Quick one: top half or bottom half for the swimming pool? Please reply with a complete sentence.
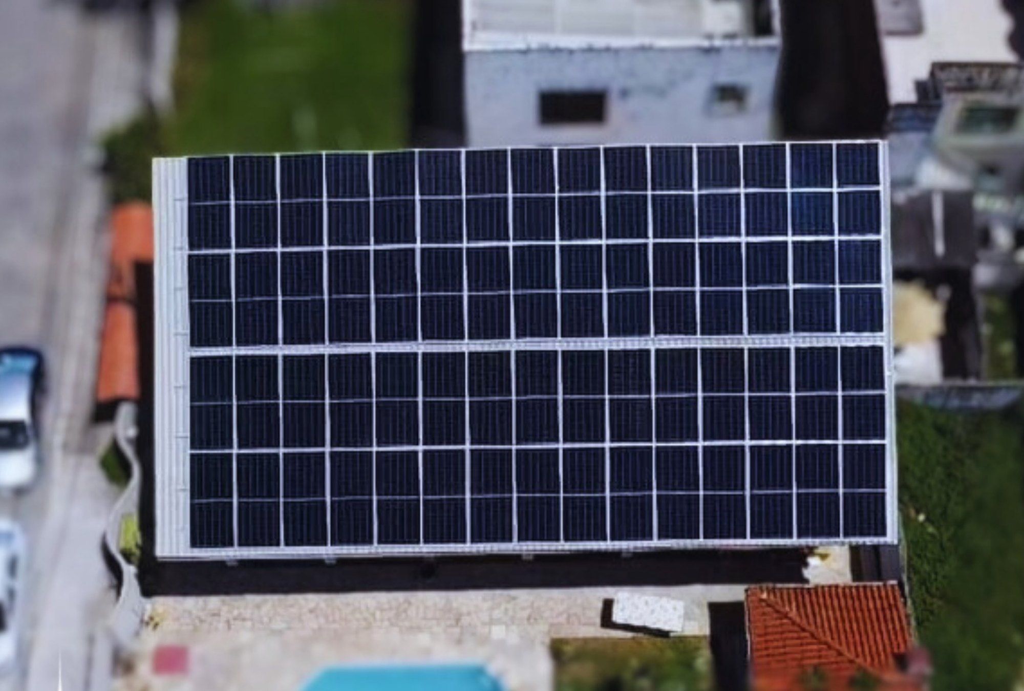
You can find the swimming pool in the bottom half.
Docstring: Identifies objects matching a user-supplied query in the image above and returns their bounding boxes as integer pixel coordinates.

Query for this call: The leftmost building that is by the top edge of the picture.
[463,0,781,144]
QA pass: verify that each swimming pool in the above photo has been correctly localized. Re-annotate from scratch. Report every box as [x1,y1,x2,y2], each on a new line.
[294,659,512,691]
